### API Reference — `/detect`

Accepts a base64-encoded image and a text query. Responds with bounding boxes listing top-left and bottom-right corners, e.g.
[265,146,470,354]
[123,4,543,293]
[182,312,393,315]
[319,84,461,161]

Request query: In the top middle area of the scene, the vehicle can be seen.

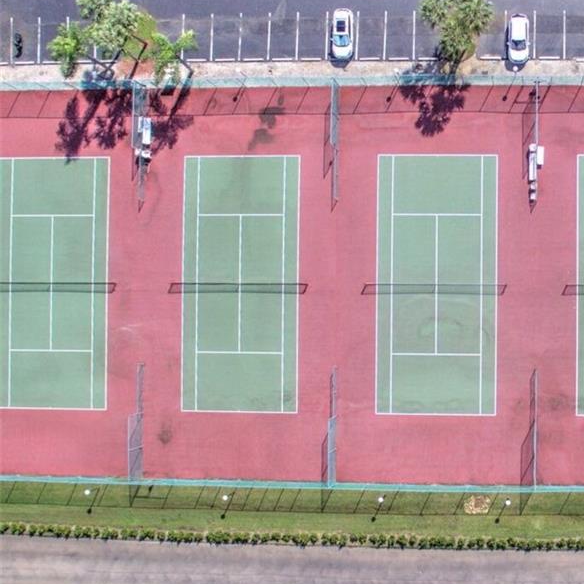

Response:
[329,10,354,61]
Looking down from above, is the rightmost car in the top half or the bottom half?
top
